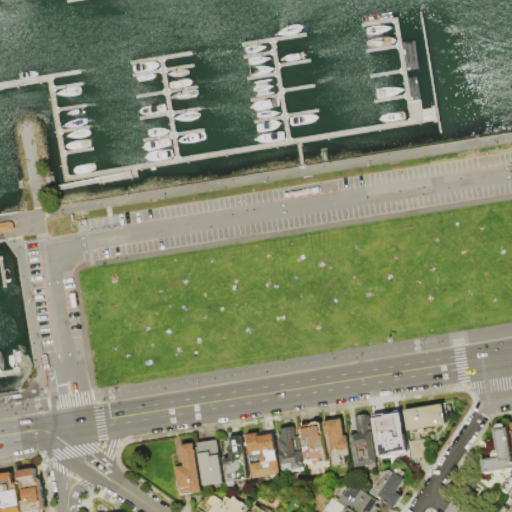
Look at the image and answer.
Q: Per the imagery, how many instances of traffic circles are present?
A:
0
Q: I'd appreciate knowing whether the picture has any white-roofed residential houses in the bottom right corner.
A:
Yes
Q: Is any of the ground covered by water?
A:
Yes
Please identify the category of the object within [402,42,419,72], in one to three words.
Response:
ship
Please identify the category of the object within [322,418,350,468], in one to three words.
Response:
house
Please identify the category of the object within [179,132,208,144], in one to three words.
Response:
boat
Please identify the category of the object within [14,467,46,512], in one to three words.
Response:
building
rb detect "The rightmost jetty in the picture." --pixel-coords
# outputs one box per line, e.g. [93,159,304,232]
[420,8,442,134]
